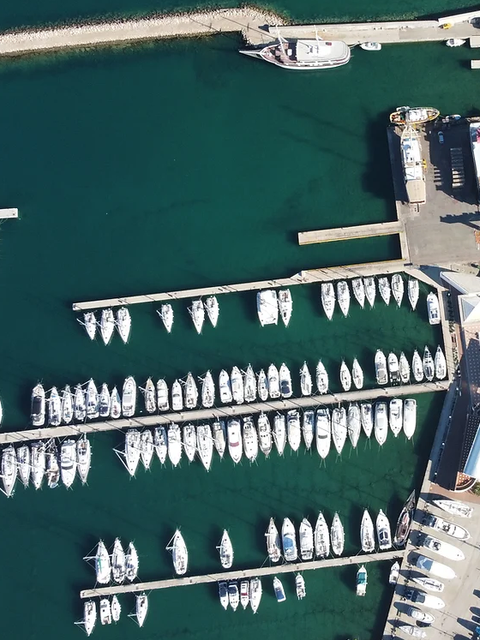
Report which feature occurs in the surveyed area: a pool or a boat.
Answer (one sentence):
Of the two, only a boat appears.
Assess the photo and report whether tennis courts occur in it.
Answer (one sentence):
No, no tennis court can be seen from above.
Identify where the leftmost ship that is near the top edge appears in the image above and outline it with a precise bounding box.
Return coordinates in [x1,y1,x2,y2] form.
[243,22,350,67]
